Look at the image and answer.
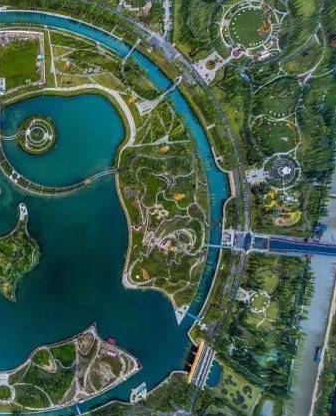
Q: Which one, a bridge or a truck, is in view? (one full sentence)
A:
The image shows a bridge.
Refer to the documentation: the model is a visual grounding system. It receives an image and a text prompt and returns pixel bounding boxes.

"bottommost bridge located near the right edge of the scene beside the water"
[252,235,336,259]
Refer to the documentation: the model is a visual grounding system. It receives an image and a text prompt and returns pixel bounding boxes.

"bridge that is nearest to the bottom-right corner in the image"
[184,339,215,389]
